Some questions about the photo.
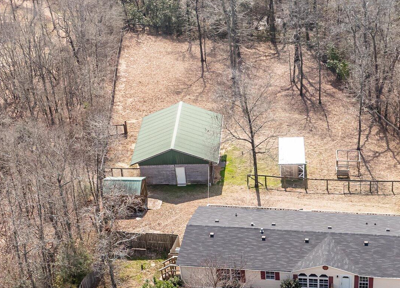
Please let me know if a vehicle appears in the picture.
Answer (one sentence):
No, the photo shows no vehicle.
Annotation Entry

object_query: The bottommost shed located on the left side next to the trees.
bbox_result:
[104,179,147,207]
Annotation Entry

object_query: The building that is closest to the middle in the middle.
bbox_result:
[132,97,228,188]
